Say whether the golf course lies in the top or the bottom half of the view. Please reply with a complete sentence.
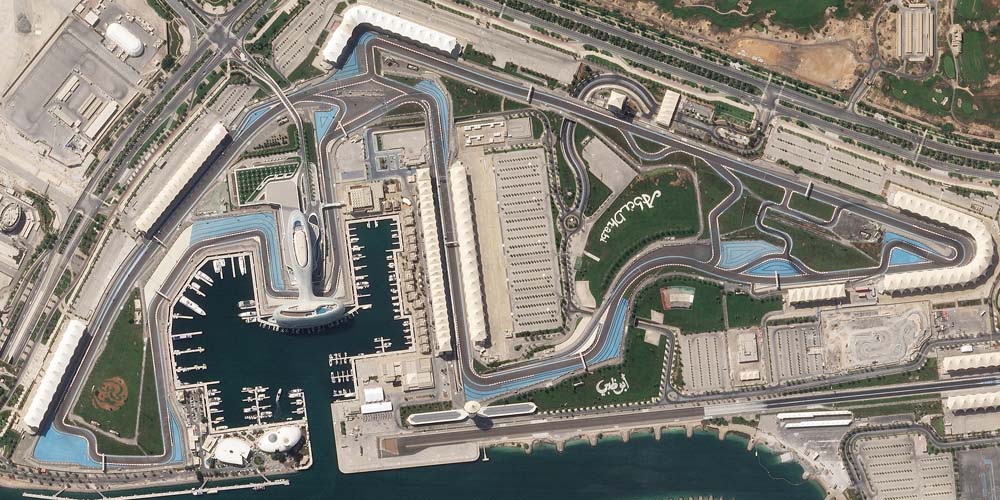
The golf course sits in the top half of the picture.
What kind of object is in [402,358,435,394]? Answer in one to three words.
building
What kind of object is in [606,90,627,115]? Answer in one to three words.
building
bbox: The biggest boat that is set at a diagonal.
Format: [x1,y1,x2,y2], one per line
[180,296,205,313]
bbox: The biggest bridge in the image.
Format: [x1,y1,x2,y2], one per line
[272,81,307,158]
